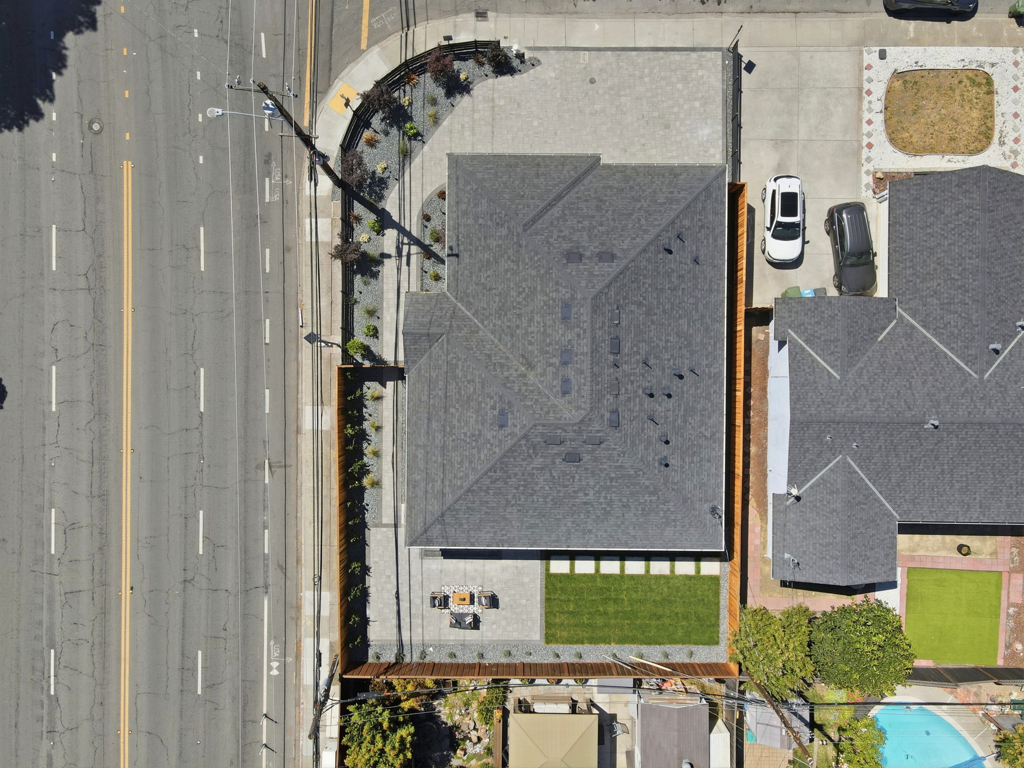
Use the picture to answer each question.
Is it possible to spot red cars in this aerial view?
No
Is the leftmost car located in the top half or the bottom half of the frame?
top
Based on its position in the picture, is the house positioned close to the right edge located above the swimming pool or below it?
above it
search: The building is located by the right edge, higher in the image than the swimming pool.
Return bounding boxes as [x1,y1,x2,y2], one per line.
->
[759,164,1024,586]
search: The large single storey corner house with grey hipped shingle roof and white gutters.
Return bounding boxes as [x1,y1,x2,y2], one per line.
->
[402,152,728,551]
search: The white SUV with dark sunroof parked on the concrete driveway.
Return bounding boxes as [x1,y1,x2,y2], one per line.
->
[761,171,811,264]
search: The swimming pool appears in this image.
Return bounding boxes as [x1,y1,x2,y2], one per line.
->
[864,695,993,768]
